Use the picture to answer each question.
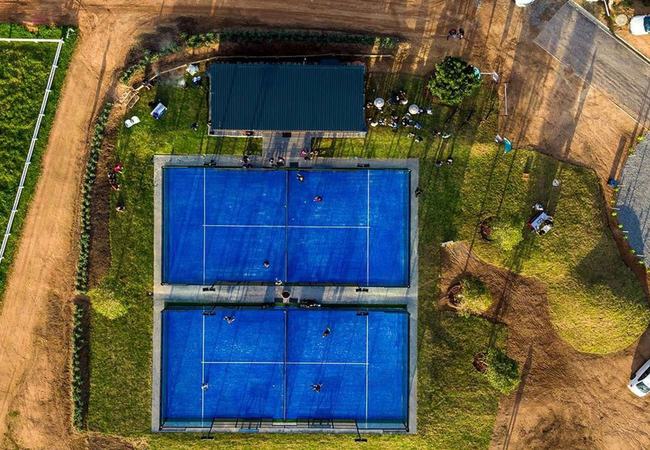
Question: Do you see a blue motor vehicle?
No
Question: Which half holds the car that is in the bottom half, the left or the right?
right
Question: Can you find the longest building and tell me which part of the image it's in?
top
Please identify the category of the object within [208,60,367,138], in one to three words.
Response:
building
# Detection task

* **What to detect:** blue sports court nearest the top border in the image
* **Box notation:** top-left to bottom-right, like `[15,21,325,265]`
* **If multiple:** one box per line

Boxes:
[161,161,411,291]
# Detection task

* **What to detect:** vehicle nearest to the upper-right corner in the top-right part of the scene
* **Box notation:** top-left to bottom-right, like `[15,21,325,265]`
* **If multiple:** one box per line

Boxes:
[628,11,650,37]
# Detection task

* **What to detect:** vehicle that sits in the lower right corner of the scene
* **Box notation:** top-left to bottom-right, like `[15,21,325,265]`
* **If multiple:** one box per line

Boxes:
[627,348,650,395]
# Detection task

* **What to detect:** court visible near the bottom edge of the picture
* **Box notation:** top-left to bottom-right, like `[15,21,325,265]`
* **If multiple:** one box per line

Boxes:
[159,303,410,440]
